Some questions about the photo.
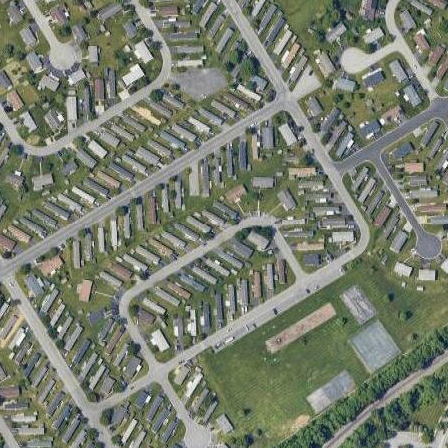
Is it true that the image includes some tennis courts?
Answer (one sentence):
Yes, looking at the shot, I can spot a tennis court.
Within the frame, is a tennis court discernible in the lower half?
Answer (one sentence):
Yes, you'll find a tennis court in the lower half.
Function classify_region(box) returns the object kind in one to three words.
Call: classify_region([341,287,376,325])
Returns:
sports court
